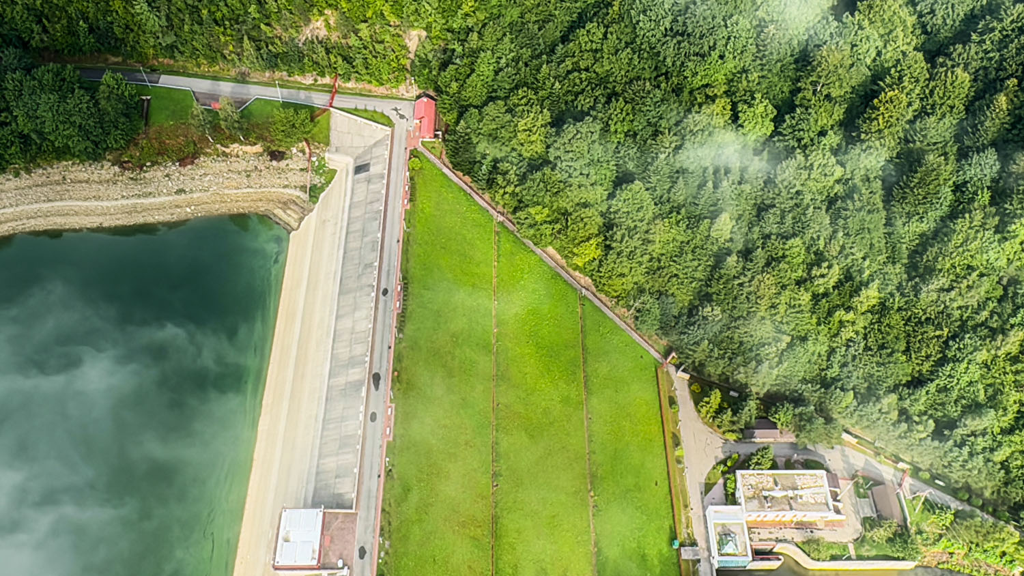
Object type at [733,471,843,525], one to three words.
building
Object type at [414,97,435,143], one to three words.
house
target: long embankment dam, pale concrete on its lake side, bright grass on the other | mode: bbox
[236,107,683,576]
